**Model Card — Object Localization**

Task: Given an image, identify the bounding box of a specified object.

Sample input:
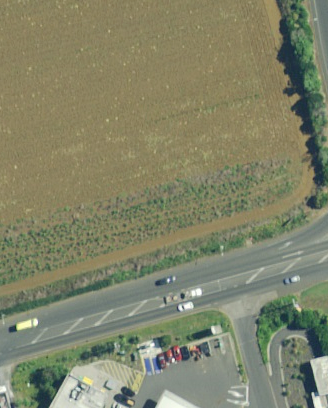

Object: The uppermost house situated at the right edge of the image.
[310,356,328,396]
